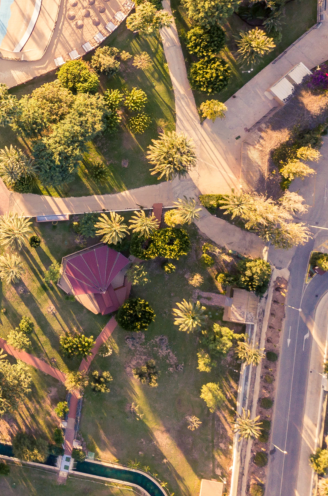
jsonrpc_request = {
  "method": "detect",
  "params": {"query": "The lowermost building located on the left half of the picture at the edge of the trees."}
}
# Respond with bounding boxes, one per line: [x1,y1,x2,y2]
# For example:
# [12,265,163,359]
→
[56,242,130,314]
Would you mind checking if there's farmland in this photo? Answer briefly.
No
